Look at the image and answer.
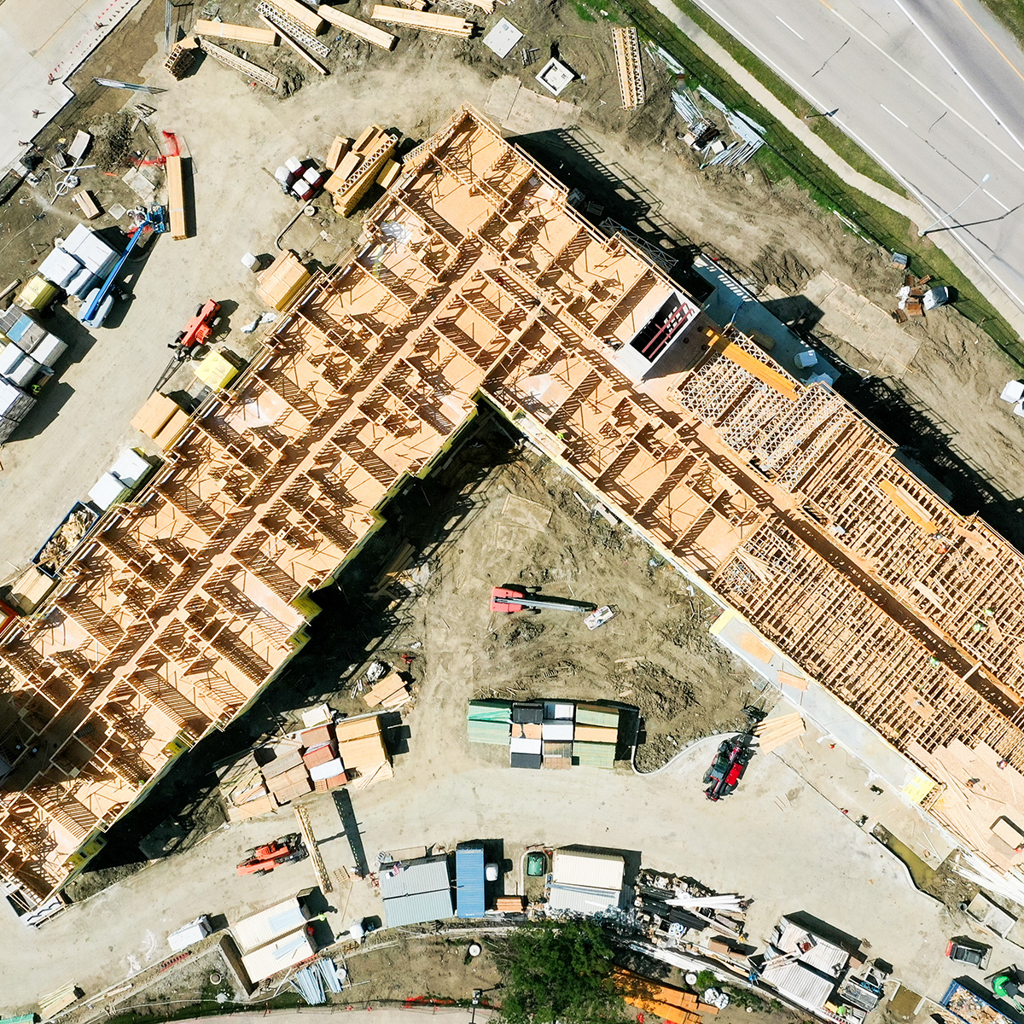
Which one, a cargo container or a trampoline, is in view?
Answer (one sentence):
Visible in the photo is a cargo container.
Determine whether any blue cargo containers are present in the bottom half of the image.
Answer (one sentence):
Yes, there is a blue cargo container in the bottom half of the image.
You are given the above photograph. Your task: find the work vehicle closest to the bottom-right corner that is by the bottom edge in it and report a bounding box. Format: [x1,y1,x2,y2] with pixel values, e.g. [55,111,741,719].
[972,967,1024,1013]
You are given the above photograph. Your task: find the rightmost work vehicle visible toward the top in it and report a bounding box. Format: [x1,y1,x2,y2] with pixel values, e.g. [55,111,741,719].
[160,296,227,383]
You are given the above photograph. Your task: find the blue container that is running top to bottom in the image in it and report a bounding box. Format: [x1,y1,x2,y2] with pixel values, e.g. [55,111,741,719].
[456,838,485,915]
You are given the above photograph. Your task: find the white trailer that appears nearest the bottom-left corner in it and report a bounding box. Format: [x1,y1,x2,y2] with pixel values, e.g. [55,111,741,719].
[170,911,214,948]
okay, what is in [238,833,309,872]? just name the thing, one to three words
work vehicle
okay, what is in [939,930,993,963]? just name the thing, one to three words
truck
